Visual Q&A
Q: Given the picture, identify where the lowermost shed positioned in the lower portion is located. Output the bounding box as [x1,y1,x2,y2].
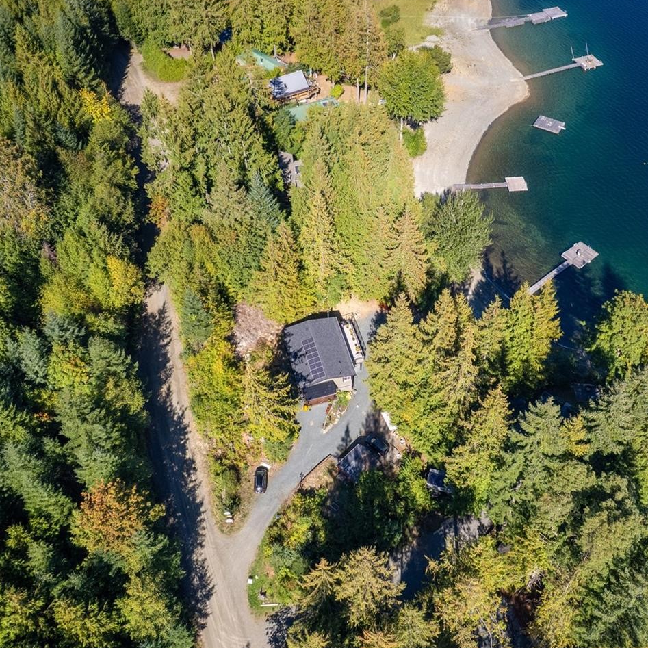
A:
[337,445,381,489]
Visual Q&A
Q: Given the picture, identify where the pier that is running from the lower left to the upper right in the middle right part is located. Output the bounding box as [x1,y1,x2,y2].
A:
[525,240,599,297]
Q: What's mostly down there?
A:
trees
